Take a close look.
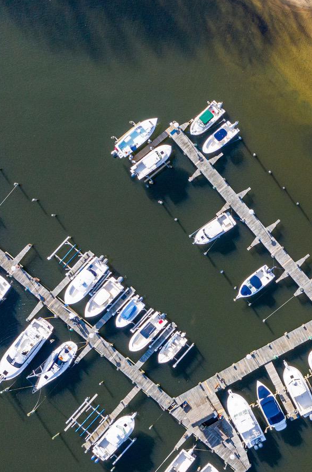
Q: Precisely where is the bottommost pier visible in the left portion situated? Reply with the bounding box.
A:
[84,386,140,449]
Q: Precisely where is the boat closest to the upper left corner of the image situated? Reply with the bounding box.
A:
[115,117,158,158]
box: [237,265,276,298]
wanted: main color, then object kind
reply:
white boat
